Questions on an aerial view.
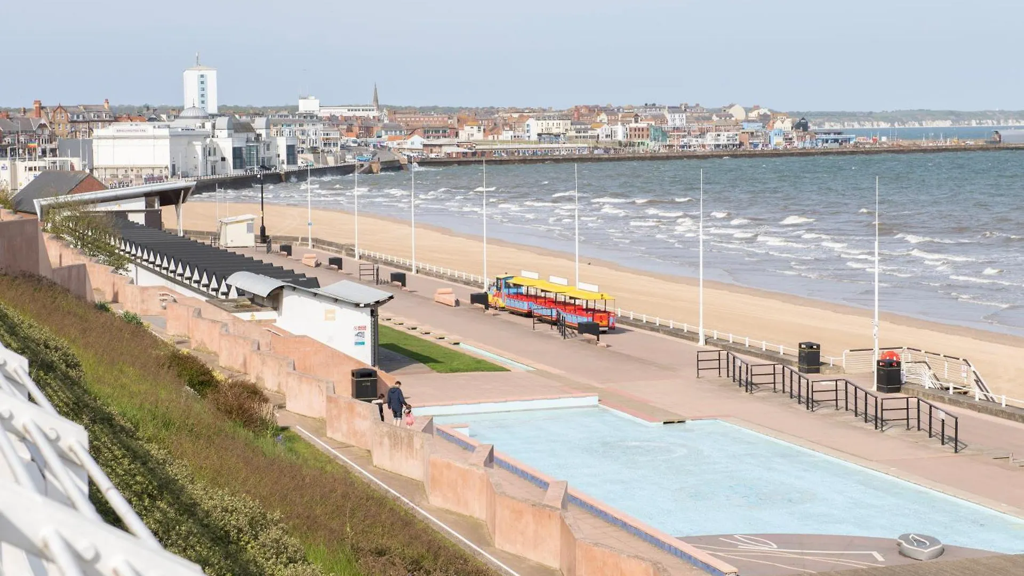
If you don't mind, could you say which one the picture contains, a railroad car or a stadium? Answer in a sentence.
The one in the frame is a railroad car.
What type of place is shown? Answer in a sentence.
This looks like a residential area.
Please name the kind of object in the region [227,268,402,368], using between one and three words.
building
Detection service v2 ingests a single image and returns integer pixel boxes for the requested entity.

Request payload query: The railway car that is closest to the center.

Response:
[502,272,553,319]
